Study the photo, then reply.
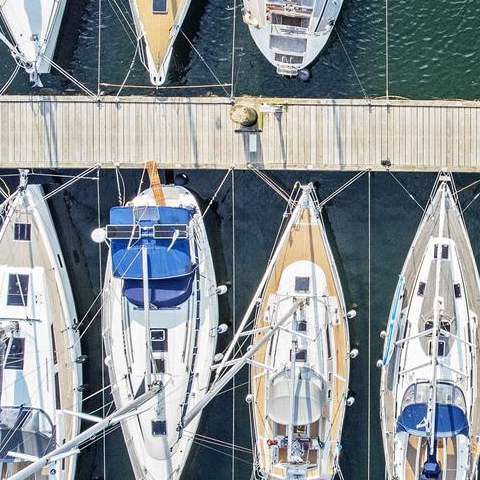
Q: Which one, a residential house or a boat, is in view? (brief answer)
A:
boat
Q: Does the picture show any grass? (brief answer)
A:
No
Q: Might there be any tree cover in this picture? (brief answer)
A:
No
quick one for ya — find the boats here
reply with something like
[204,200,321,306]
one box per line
[0,0,68,88]
[110,0,192,90]
[170,174,352,480]
[381,169,480,480]
[242,0,347,76]
[0,171,79,480]
[0,184,222,480]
